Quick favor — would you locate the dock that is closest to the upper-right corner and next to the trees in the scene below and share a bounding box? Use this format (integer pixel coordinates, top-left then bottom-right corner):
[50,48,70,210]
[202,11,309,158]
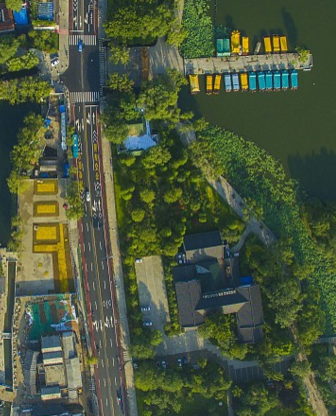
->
[185,53,312,75]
